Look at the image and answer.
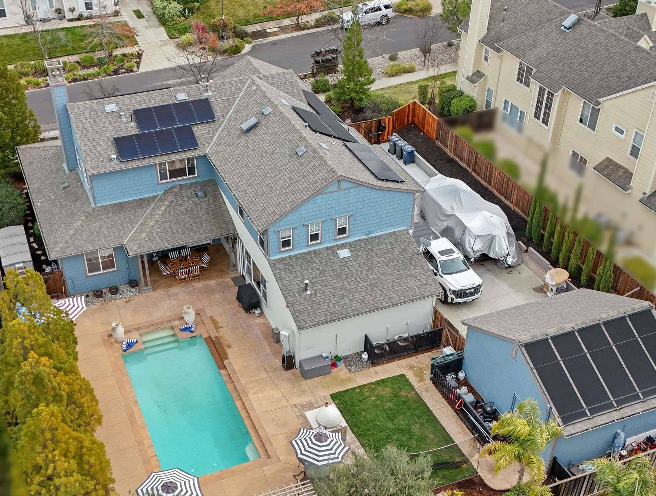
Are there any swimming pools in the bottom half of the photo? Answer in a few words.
Yes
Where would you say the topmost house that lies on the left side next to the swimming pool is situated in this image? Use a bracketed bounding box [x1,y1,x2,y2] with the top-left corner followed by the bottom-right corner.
[17,52,446,368]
